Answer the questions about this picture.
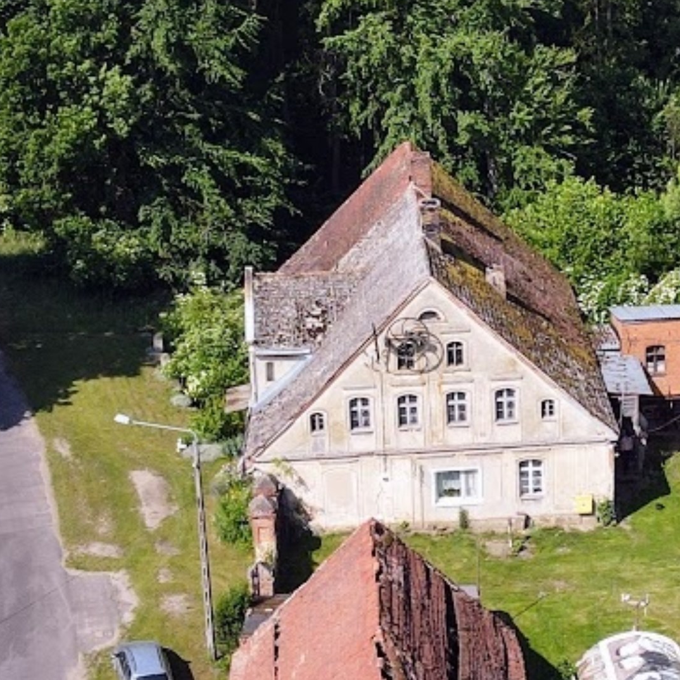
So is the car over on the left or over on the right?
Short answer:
left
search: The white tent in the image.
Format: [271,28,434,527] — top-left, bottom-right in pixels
[578,636,680,680]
